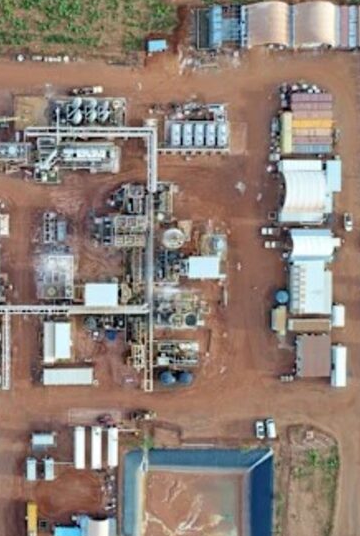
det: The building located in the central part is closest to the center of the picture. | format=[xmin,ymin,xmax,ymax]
[186,256,219,278]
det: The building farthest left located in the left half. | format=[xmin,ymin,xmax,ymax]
[0,161,30,176]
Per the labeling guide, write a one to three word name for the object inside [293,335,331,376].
building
